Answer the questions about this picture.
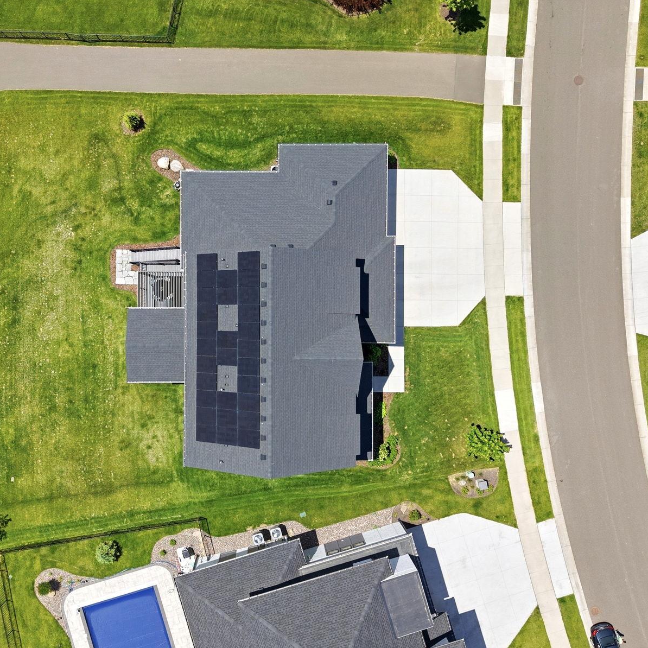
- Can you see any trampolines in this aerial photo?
No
